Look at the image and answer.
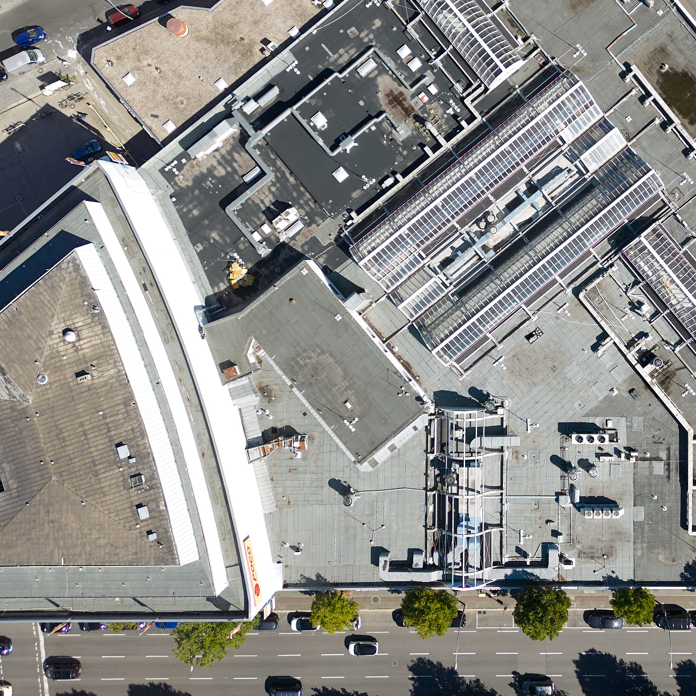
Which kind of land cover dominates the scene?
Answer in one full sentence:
The scene is dominated by buildings.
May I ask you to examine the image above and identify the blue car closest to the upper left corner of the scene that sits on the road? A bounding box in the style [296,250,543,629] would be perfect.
[13,25,46,48]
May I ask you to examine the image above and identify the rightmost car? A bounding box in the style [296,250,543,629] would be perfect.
[656,614,691,631]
